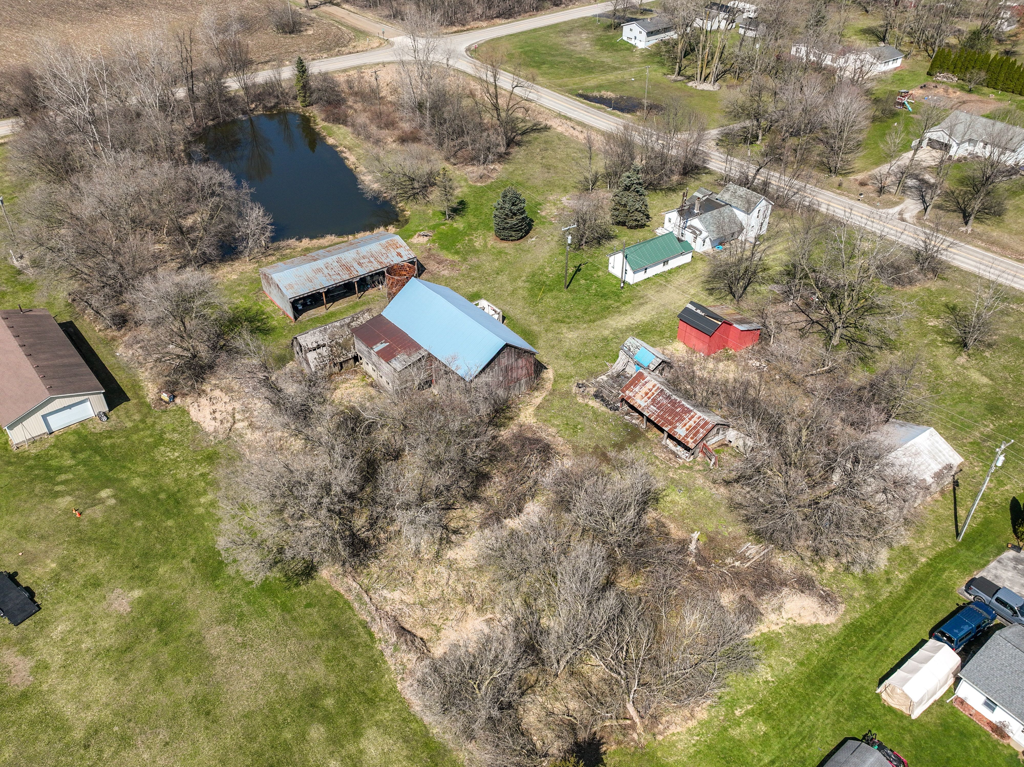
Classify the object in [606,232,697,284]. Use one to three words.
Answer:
building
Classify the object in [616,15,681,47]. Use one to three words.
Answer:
house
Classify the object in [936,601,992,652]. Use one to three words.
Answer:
truck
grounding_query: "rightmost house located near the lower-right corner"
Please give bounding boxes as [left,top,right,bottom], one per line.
[945,621,1024,747]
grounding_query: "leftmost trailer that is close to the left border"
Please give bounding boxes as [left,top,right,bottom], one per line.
[0,586,40,627]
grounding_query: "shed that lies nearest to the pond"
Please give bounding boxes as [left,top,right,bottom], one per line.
[258,232,419,320]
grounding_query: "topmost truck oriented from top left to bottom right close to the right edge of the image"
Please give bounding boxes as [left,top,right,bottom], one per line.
[966,579,1024,626]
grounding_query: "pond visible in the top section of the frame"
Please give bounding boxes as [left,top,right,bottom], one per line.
[192,113,402,258]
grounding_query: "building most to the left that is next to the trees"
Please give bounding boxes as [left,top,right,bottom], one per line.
[0,308,108,445]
